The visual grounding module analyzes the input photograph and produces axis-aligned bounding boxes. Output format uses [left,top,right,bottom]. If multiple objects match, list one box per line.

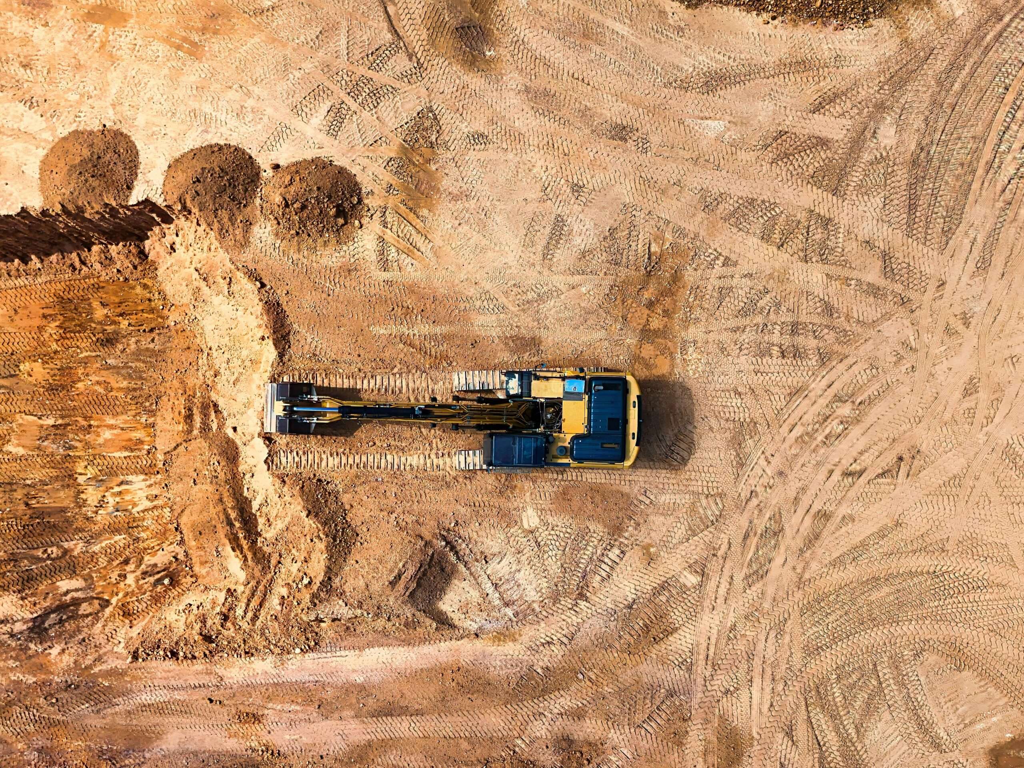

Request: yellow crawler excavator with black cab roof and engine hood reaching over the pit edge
[264,364,644,473]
